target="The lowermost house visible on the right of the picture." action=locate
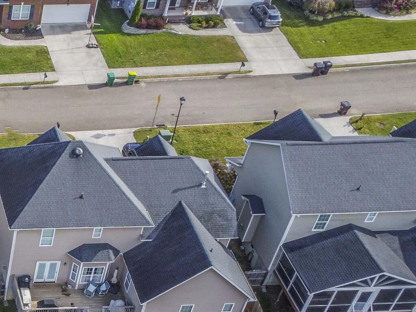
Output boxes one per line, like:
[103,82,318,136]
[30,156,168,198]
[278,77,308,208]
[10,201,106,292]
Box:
[217,104,416,312]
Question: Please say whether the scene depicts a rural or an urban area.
urban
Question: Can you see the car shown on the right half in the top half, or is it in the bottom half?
top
